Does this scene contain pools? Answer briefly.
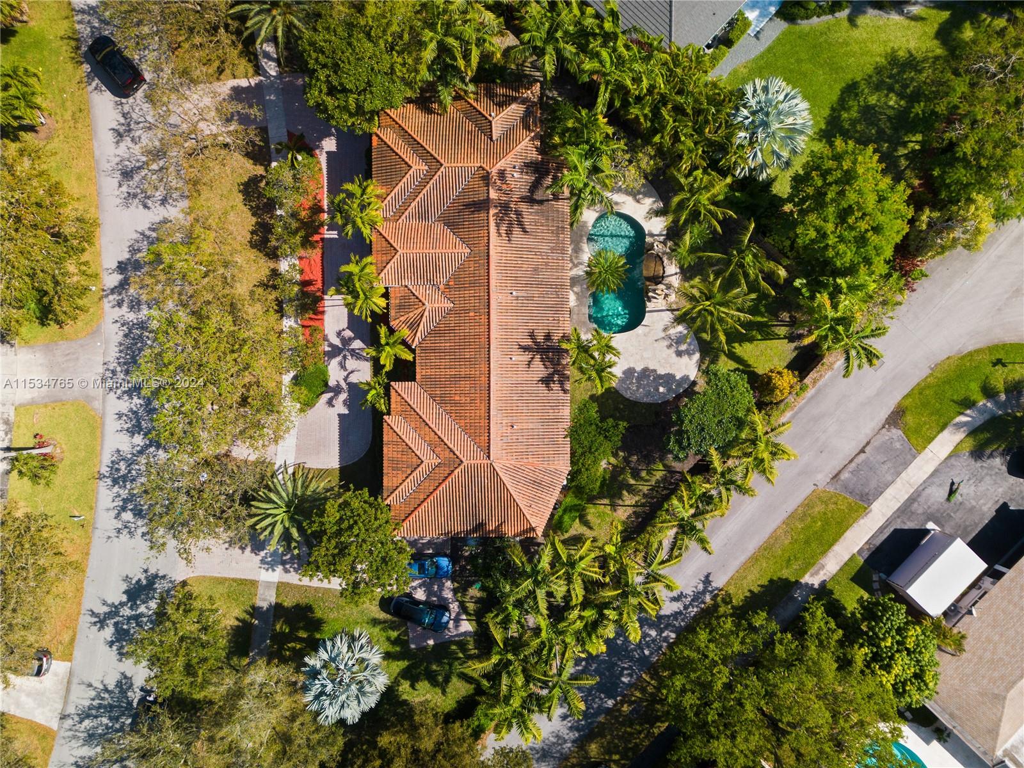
Yes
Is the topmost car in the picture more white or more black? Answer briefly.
black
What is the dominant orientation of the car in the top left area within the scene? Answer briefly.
diagonally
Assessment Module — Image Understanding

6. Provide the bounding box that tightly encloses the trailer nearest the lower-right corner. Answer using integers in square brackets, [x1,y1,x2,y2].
[888,524,988,618]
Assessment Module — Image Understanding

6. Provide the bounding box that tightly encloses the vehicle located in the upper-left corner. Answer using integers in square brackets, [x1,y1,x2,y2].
[90,35,146,102]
